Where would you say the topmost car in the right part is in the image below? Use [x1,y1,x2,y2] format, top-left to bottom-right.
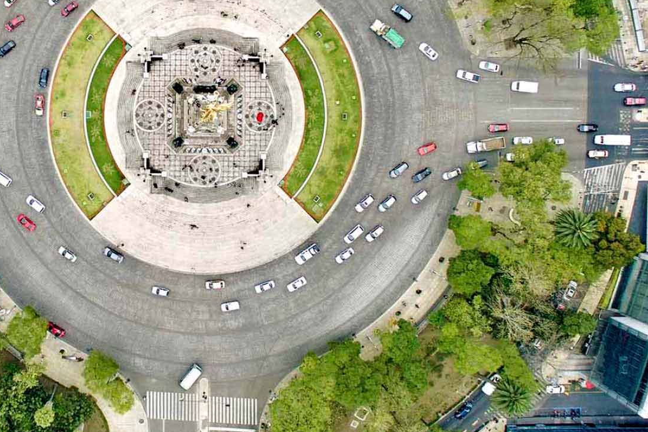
[391,3,413,22]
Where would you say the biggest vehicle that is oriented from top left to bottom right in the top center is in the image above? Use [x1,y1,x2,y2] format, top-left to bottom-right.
[370,21,405,48]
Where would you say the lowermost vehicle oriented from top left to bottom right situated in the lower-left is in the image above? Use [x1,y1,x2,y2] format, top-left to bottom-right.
[46,321,67,337]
